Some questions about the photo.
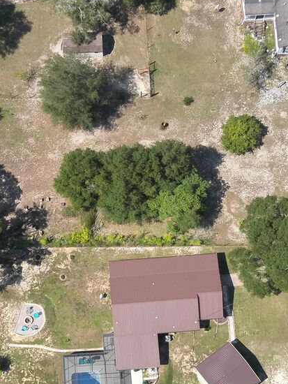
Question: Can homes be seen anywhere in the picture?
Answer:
Yes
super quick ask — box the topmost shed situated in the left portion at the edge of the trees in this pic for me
[61,32,103,58]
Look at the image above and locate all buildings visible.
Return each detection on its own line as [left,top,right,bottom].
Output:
[194,341,262,384]
[108,253,224,370]
[242,0,288,57]
[61,32,103,58]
